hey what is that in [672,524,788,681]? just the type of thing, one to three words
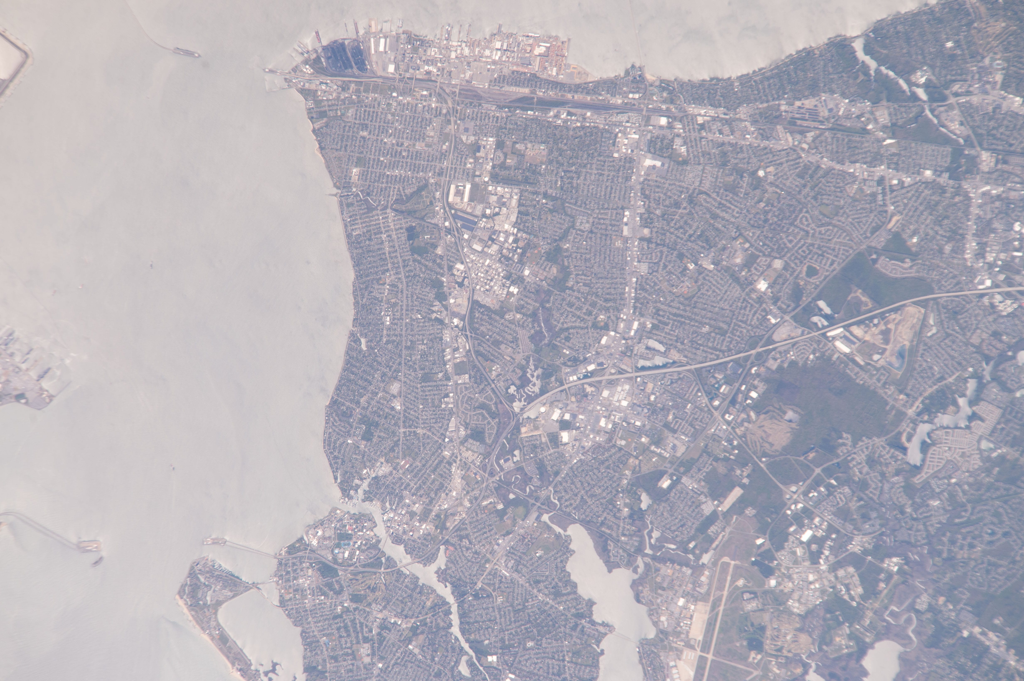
airport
